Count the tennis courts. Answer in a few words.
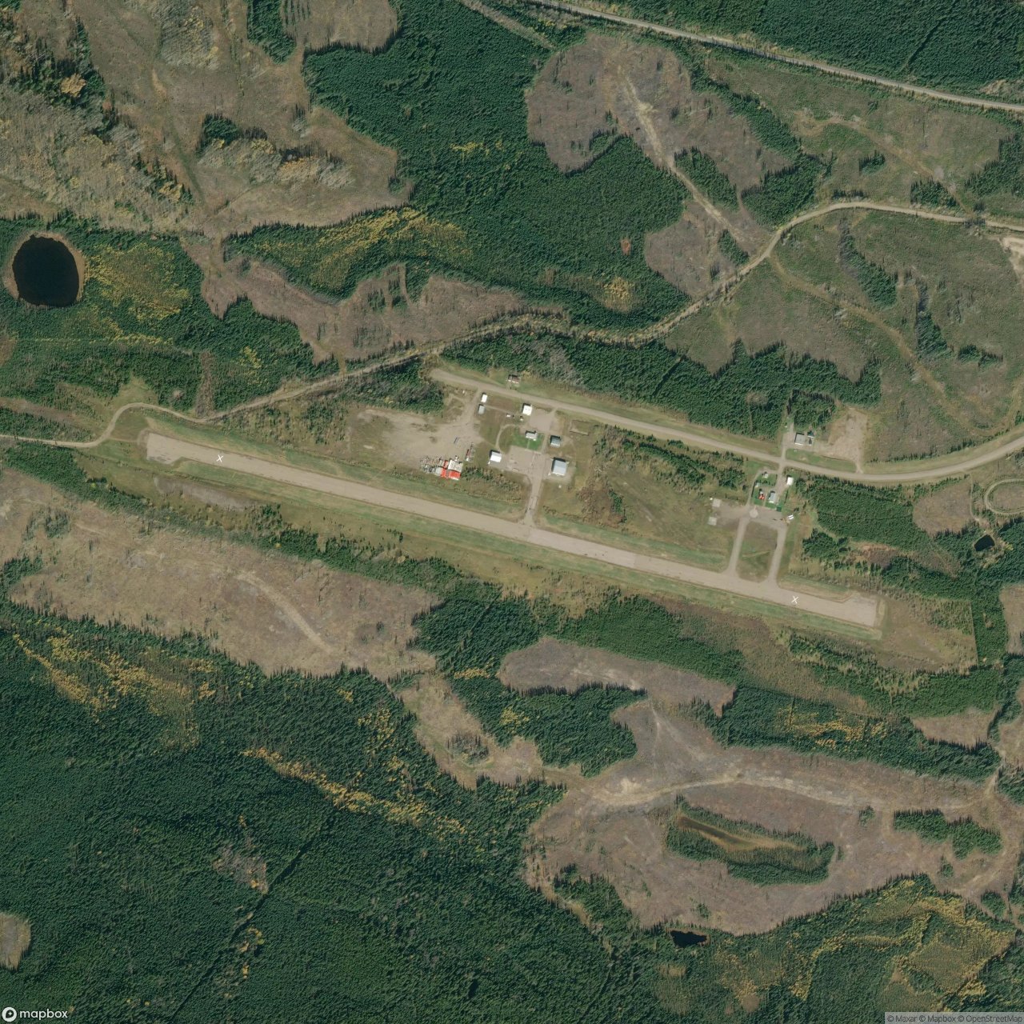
none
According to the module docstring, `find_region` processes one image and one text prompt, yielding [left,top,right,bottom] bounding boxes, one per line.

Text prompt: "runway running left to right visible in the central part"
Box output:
[148,433,876,626]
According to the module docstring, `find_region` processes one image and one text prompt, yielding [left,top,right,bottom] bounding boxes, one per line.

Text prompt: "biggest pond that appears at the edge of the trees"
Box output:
[12,234,79,308]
